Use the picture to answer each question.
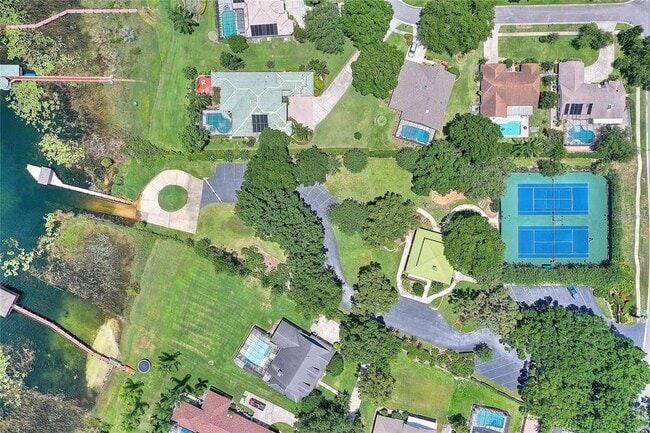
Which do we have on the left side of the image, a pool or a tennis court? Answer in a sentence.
You can see a pool on the left side of the image.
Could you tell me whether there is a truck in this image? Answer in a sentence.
No, I find no truck anywhere in the image.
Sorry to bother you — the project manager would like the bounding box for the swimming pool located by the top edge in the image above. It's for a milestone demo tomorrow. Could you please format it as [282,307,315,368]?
[217,0,248,39]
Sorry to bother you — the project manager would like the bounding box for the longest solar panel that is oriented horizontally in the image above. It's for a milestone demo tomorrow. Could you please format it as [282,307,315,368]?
[251,23,278,36]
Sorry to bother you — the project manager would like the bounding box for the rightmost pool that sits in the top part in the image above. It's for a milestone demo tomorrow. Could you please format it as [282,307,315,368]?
[564,119,599,146]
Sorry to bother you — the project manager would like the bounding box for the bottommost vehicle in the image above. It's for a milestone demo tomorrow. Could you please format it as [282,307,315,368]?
[249,398,265,410]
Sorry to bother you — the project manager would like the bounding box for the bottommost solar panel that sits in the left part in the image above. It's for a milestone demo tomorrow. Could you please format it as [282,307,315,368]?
[252,114,268,132]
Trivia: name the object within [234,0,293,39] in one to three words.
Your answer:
house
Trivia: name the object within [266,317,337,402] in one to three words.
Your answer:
house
